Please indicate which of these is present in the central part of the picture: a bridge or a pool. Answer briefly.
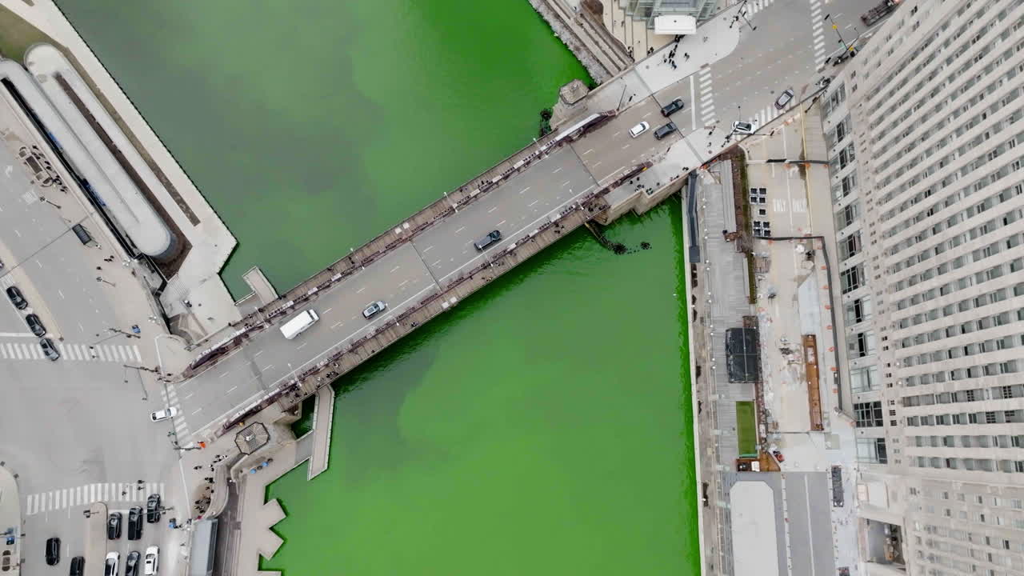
bridge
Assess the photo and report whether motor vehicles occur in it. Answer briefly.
Yes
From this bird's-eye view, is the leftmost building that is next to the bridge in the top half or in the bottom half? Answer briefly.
top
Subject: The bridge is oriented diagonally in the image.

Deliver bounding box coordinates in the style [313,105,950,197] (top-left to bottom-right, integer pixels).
[180,105,650,437]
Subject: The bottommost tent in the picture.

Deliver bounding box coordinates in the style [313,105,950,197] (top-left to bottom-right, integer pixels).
[724,481,779,576]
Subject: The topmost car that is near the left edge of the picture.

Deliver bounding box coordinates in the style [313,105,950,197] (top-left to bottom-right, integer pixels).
[5,285,27,311]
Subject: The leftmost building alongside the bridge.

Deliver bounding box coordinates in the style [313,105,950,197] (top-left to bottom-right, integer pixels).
[0,42,175,258]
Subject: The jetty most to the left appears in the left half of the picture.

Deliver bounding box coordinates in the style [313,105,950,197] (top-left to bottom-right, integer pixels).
[233,266,278,317]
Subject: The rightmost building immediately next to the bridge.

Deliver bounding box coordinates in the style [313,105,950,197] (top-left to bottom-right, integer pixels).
[820,0,1024,490]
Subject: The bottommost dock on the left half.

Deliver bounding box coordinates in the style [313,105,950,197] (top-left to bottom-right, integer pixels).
[294,386,336,482]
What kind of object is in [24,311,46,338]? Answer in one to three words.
car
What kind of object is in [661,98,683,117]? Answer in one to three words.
car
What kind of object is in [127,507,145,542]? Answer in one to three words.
vehicle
